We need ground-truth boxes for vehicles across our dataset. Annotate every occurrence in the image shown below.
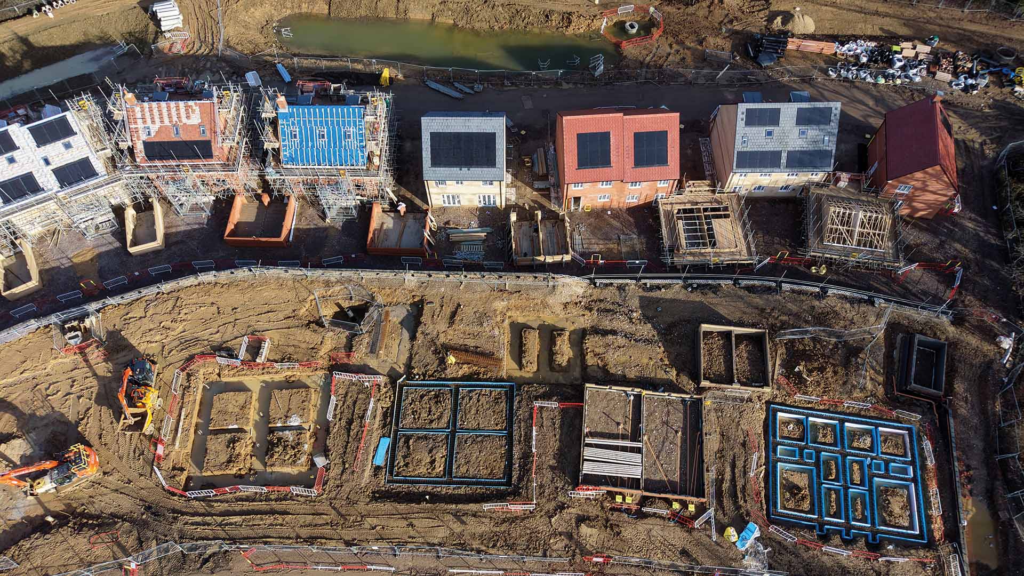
[86,356,163,428]
[0,445,97,504]
[110,392,166,436]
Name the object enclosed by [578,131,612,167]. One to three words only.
solar panel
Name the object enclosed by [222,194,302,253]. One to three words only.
building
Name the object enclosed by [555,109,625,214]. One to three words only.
house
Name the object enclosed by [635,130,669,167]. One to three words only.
solar panel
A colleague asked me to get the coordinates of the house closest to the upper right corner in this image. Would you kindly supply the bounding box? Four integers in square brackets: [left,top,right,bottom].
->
[871,87,959,222]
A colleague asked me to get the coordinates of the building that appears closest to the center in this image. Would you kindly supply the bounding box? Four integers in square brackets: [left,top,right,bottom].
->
[506,213,577,275]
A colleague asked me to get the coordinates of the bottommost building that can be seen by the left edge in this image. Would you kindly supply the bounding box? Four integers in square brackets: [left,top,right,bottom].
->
[0,238,53,309]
